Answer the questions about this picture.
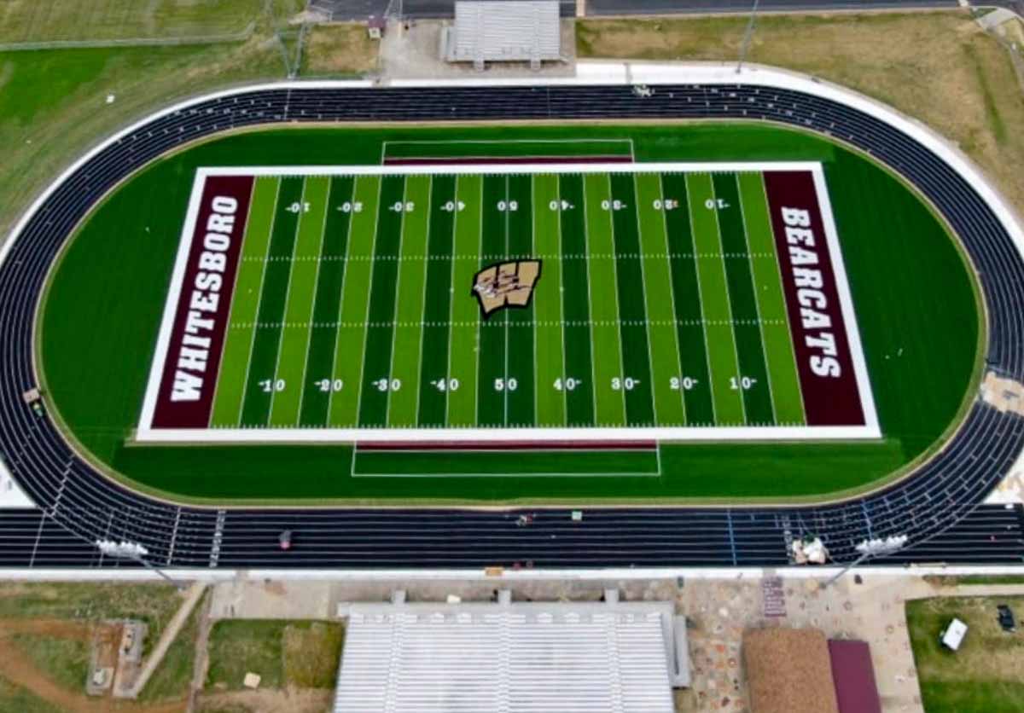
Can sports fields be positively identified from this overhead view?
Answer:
Yes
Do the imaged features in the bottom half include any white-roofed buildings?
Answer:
No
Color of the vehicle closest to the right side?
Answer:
black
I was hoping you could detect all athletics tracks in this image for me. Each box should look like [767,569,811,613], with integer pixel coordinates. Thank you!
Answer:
[0,84,1024,569]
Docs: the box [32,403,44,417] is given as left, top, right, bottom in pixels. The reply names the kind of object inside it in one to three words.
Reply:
vehicle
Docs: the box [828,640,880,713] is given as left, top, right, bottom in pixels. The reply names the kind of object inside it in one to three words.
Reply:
building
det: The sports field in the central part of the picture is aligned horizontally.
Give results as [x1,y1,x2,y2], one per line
[151,171,865,428]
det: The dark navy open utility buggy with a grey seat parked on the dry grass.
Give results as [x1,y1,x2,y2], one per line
[996,606,1019,631]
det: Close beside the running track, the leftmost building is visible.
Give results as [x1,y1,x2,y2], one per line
[743,629,839,713]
